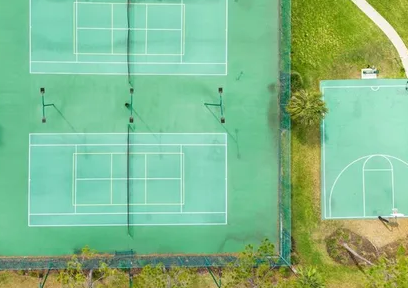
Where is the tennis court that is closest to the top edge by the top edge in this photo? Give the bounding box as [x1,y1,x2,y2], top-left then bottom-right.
[30,0,227,75]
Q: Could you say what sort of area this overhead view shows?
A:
sports ground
